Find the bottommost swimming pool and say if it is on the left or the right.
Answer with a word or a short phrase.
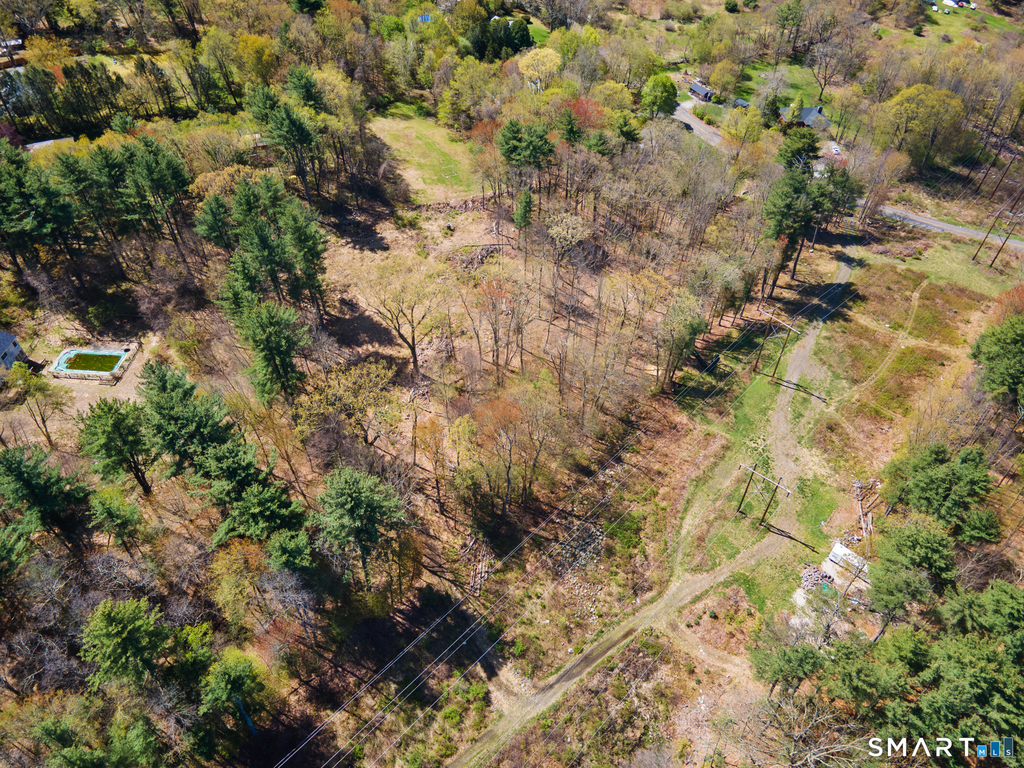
left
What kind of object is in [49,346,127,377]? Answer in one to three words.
swimming pool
